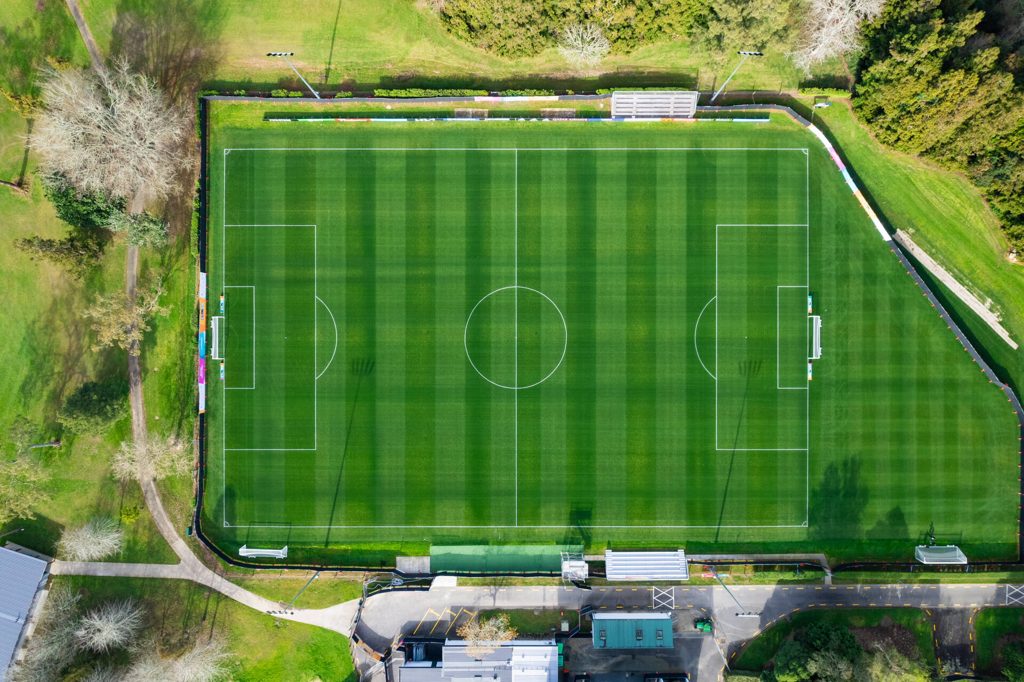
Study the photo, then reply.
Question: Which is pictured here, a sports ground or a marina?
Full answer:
The area seen from above is a sports ground.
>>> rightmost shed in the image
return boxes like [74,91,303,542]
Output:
[592,612,677,649]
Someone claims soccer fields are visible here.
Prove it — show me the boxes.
[199,98,1020,574]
